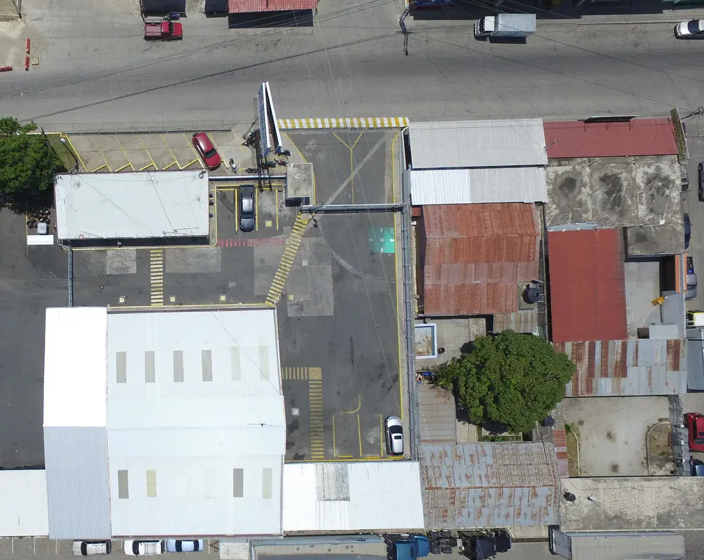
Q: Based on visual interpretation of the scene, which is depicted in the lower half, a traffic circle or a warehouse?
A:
warehouse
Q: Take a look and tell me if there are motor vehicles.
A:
Yes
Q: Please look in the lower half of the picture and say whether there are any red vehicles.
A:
Yes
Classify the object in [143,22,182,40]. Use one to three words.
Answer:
vehicle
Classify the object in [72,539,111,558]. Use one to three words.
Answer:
car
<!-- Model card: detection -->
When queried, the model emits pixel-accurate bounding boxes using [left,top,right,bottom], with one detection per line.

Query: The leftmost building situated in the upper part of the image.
[56,170,210,241]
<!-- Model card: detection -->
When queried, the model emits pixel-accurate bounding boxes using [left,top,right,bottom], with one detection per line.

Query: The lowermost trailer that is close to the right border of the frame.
[552,526,673,559]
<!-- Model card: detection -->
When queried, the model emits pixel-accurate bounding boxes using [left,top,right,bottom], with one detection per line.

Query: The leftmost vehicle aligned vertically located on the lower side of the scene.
[385,416,404,454]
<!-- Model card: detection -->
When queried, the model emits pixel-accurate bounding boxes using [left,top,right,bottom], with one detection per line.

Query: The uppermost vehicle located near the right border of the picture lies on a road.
[673,21,704,40]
